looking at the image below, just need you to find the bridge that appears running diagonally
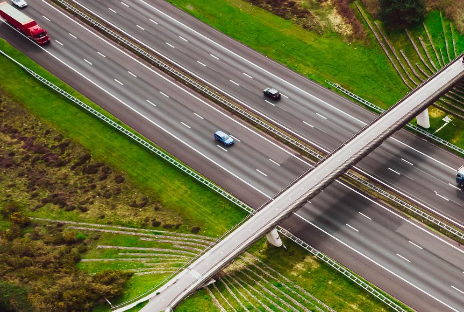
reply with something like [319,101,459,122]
[109,50,464,312]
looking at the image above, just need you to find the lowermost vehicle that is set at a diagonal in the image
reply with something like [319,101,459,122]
[215,129,235,146]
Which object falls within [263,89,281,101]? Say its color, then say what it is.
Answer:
black vehicle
